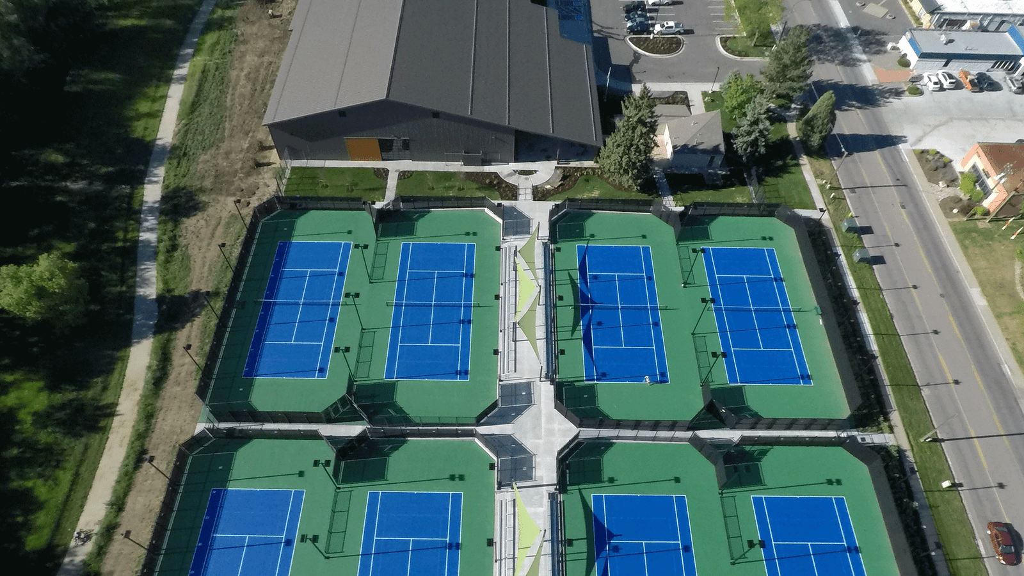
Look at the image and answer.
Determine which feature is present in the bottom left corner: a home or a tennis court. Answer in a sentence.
There is a tennis court in the bottom left corner.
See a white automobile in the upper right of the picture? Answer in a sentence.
Yes, looking in the upper right of the picture, one can make out a white automobile.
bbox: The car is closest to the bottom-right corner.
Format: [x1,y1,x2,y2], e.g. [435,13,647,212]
[980,519,1014,562]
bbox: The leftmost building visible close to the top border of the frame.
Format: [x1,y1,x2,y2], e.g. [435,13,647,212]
[263,0,602,165]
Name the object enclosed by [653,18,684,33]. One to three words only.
vehicle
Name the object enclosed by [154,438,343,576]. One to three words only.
tennis court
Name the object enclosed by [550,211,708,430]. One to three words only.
tennis court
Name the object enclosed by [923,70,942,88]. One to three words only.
car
